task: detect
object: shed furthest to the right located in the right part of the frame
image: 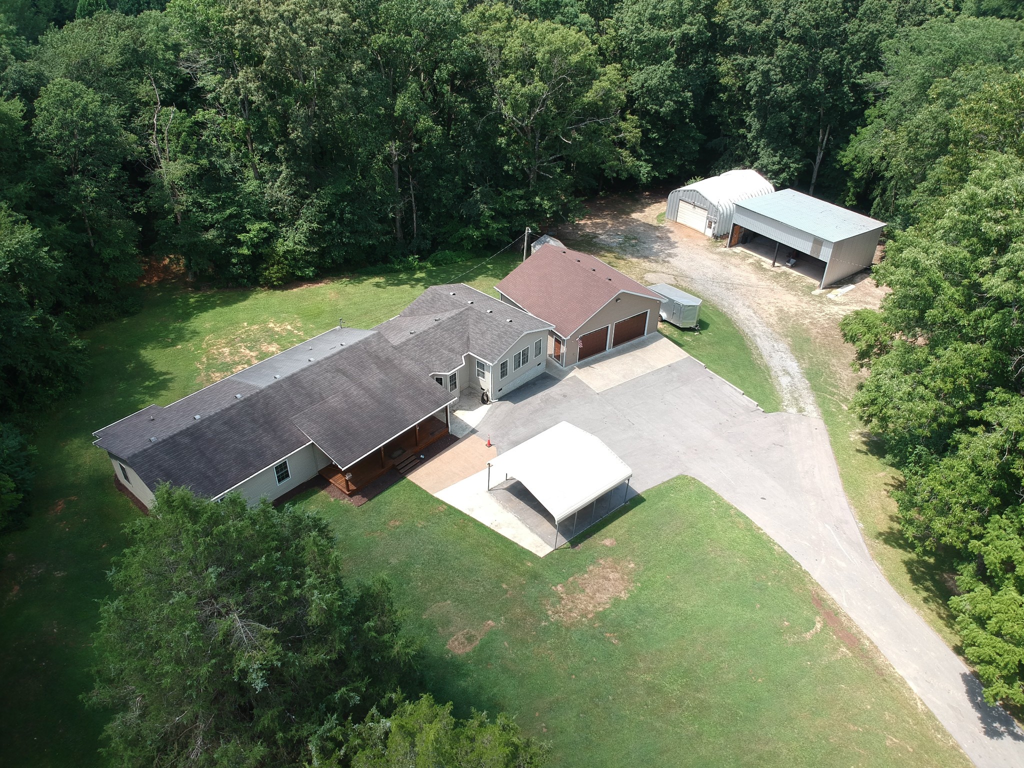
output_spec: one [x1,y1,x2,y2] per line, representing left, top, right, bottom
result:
[726,189,887,290]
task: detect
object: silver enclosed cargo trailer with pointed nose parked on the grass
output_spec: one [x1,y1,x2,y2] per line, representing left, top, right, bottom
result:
[649,280,707,334]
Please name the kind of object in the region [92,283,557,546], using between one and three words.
house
